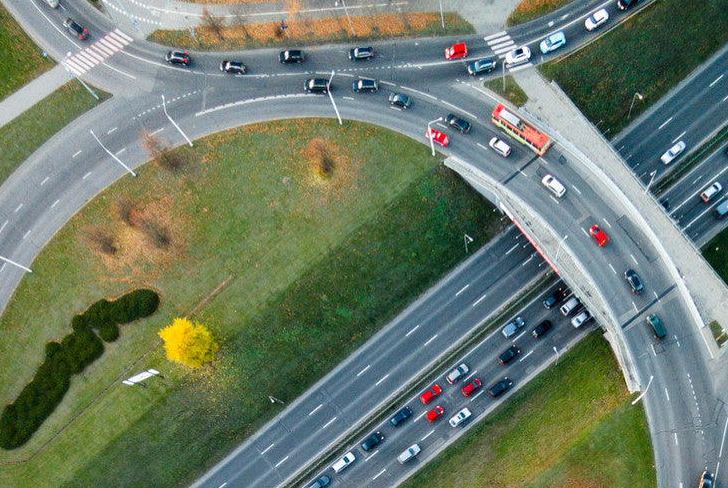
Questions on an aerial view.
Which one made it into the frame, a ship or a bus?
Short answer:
bus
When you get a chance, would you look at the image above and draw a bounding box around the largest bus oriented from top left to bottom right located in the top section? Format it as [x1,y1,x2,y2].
[491,102,551,159]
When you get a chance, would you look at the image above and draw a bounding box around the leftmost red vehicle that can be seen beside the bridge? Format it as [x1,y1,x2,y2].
[423,128,451,146]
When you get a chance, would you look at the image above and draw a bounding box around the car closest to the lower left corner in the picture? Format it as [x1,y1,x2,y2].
[308,474,332,488]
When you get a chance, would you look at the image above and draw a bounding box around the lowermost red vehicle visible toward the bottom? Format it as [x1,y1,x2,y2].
[422,403,447,425]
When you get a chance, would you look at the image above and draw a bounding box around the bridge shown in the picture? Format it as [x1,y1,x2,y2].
[443,80,728,393]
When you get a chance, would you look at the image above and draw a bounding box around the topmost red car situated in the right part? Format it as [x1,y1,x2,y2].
[443,43,469,59]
